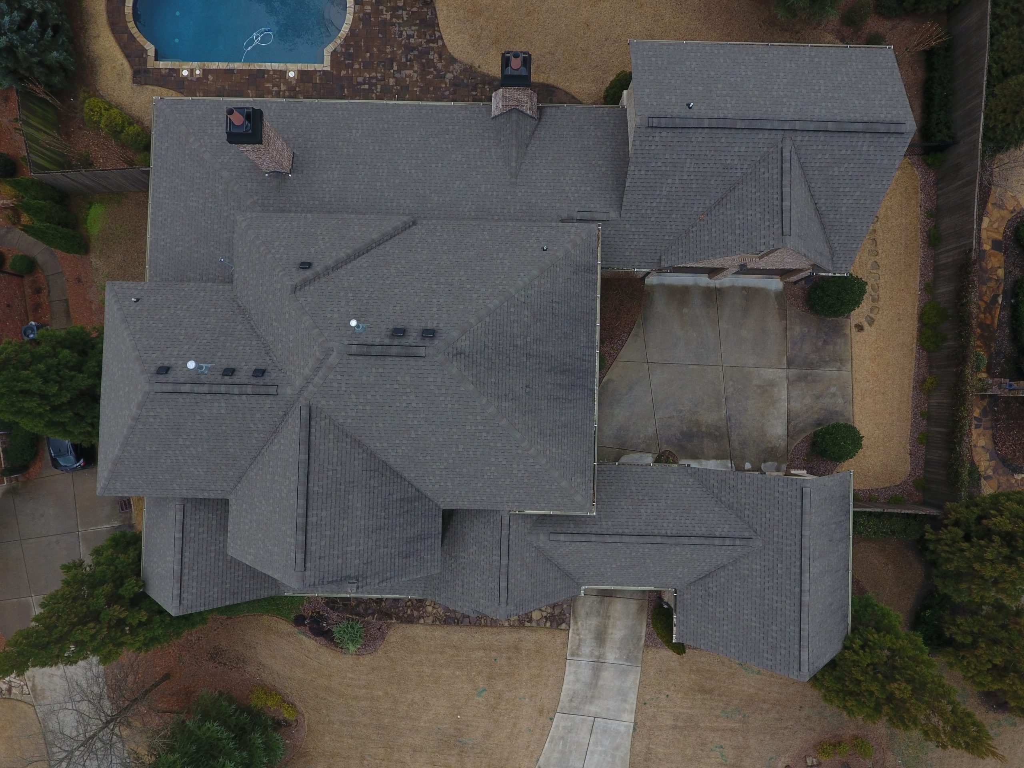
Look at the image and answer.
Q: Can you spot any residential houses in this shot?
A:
Yes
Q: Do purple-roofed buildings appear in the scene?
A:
No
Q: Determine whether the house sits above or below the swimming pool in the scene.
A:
below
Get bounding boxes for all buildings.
[96,38,918,682]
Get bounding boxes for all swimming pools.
[125,0,354,70]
